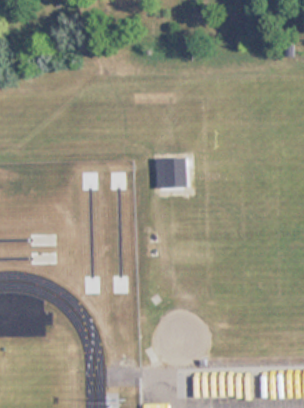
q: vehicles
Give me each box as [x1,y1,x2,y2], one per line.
[269,372,276,399]
[260,372,268,399]
[227,372,234,399]
[286,372,293,398]
[210,372,218,399]
[236,372,243,400]
[219,372,226,399]
[194,372,200,399]
[202,372,209,399]
[278,372,285,399]
[245,374,252,400]
[144,403,170,408]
